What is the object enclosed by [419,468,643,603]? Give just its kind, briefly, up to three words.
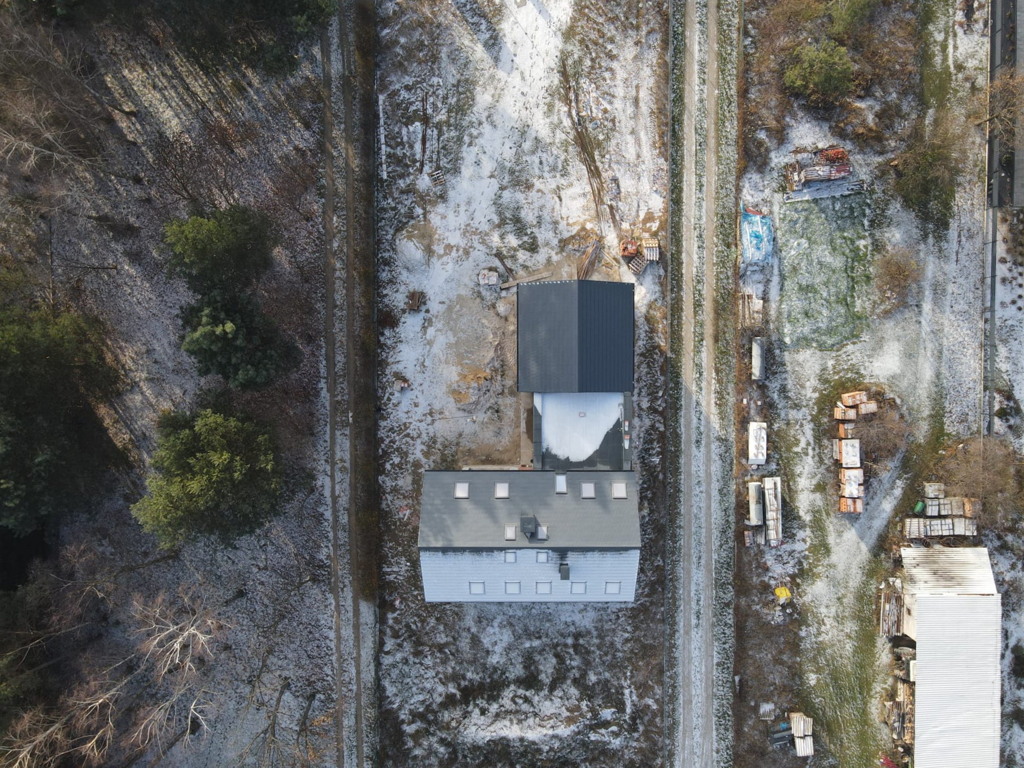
house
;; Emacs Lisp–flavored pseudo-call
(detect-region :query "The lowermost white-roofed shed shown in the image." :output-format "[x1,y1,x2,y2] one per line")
[914,594,1002,768]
